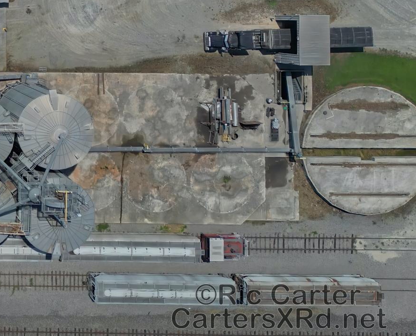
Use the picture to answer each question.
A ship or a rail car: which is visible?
rail car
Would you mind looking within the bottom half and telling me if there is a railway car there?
Yes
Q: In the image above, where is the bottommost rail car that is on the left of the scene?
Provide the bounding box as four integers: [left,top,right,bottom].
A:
[78,275,236,306]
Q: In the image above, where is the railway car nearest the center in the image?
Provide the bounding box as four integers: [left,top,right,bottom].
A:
[193,234,240,263]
